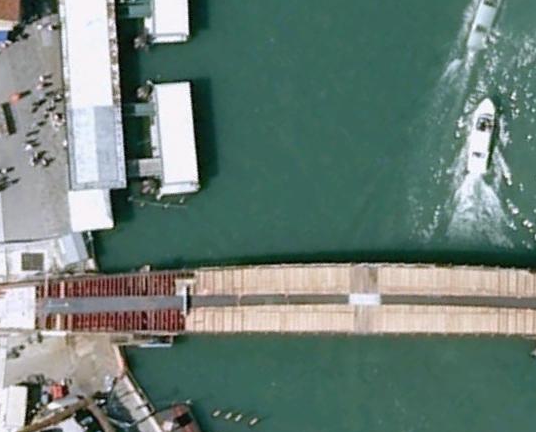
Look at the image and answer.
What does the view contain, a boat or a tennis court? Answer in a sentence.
Looking from above, you can make out a boat.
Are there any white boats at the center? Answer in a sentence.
No, there is no white boat at the center.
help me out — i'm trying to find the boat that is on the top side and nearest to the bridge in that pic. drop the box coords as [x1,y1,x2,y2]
[466,99,495,174]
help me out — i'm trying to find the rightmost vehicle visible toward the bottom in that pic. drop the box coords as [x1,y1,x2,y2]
[77,409,101,432]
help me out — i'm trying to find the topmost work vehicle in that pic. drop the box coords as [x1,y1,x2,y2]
[34,385,59,403]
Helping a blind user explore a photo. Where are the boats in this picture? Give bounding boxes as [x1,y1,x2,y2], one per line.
[466,0,502,52]
[466,99,495,174]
